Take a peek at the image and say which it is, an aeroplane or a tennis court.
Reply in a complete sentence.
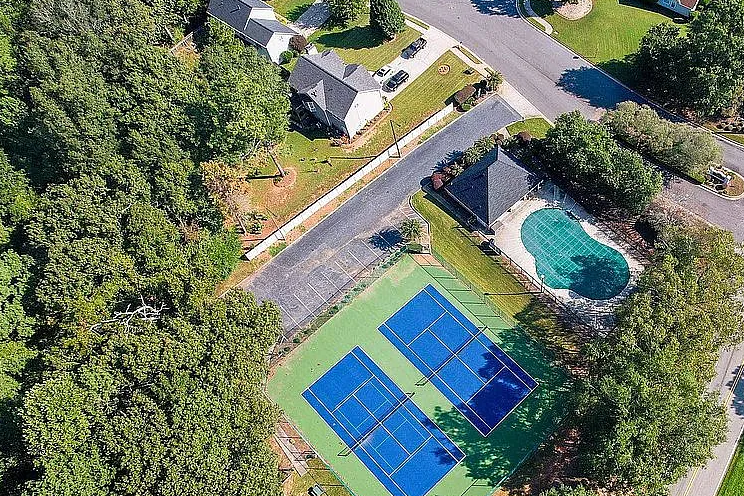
Of the two, only a tennis court appears.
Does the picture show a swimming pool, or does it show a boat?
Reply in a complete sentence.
There is a swimming pool in the scene.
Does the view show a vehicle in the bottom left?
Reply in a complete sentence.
No, I can find no vehicle in the bottom left.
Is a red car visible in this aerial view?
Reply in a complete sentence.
No, no red car is visible in the view.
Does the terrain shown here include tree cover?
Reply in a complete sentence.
Yes, some tree cover is visible.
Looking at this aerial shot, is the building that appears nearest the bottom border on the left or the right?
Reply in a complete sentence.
The building that appears nearest the bottom border sits on the right side.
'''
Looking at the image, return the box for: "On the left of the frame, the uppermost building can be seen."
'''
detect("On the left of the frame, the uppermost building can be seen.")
[206,0,298,64]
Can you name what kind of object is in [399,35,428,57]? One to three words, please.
truck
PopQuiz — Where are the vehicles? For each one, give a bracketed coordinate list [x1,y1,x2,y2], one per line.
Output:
[399,35,428,57]
[382,68,409,90]
[372,62,394,81]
